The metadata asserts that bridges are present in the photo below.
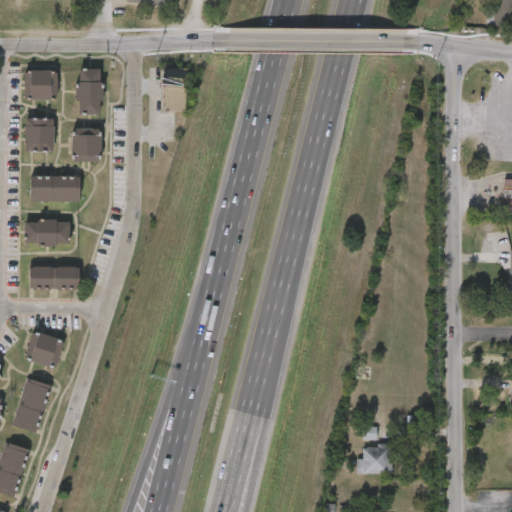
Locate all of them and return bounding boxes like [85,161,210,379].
[214,28,420,54]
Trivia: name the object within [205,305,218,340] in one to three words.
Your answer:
vehicle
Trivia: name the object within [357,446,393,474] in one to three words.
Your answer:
house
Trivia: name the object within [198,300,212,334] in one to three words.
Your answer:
vehicle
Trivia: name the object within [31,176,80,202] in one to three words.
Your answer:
building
